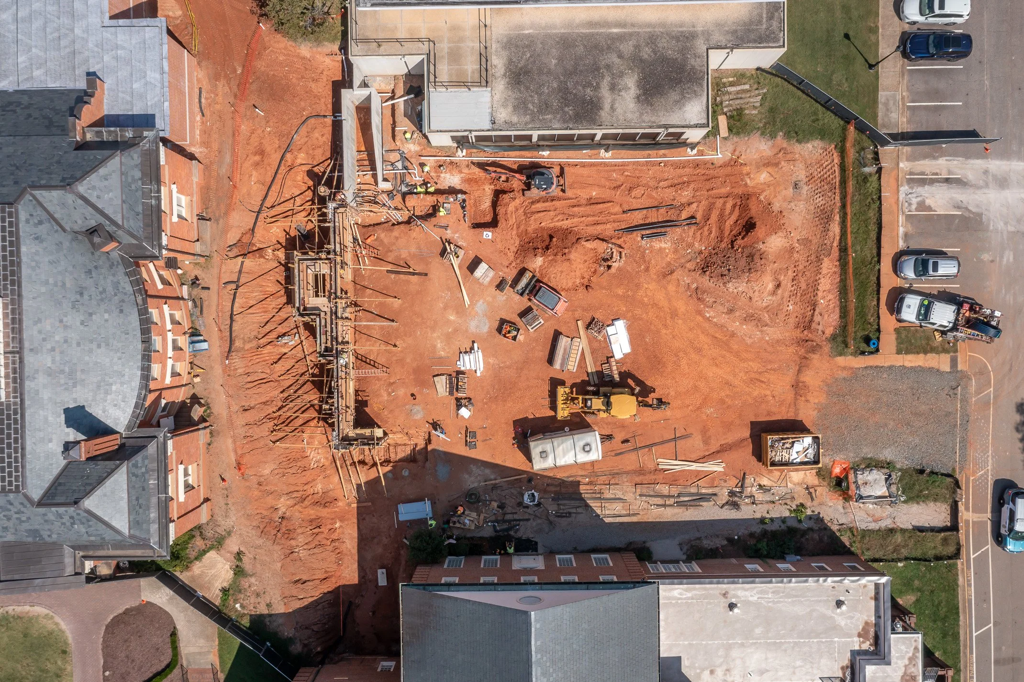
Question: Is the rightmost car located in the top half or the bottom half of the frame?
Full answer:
You can find the rightmost car in the bottom half.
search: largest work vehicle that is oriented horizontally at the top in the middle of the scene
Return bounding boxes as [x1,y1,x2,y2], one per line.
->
[497,161,571,197]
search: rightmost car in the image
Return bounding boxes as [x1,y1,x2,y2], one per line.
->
[993,486,1024,553]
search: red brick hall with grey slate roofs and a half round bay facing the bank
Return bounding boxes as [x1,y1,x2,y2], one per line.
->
[0,76,216,594]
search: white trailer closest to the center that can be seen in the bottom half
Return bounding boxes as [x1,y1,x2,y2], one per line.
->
[529,428,613,470]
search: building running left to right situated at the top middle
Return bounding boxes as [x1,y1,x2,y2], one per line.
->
[350,0,787,151]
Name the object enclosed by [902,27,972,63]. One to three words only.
car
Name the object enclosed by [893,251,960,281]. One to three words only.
car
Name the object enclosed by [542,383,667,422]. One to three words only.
work vehicle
